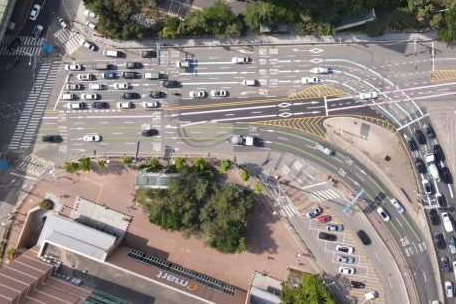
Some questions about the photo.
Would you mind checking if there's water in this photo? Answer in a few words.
No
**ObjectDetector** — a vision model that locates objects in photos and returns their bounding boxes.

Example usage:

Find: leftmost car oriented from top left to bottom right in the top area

[56,15,72,32]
